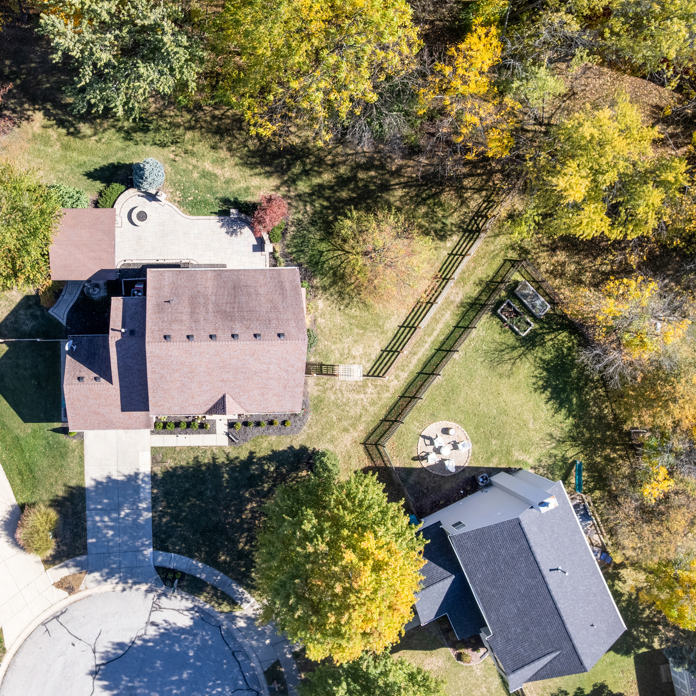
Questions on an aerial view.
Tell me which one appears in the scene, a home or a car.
home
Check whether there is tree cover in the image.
Yes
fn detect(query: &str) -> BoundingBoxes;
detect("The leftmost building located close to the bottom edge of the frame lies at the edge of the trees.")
[404,467,628,694]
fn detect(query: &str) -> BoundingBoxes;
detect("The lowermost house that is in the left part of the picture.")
[63,265,308,432]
